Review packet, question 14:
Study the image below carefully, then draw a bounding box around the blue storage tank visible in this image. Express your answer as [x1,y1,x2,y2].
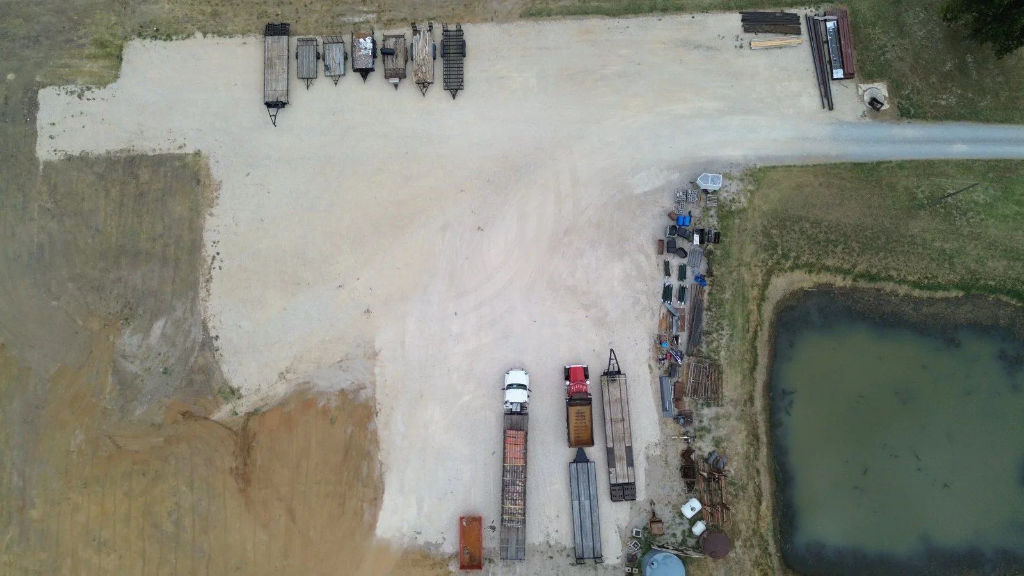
[642,547,685,576]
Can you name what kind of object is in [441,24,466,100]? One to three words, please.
trailer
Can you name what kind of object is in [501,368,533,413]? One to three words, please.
truck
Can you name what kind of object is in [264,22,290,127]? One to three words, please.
trailer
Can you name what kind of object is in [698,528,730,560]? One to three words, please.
storage tank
